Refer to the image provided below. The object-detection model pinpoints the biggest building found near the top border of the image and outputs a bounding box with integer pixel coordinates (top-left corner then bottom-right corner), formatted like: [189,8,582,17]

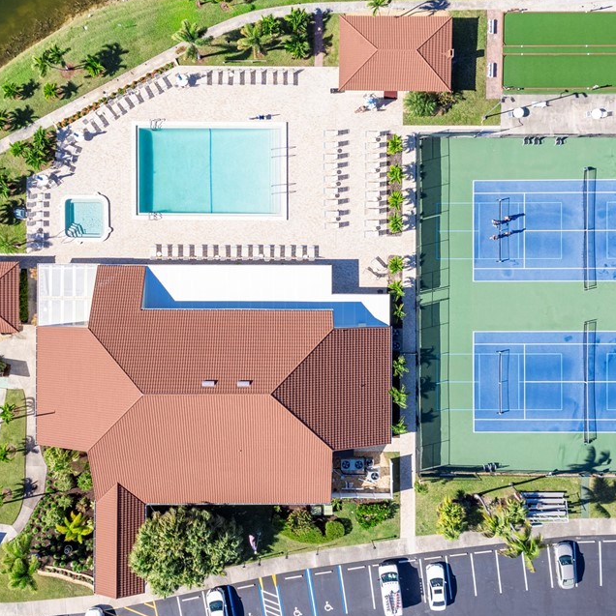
[339,14,455,100]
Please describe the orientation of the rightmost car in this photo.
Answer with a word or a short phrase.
from top to bottom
